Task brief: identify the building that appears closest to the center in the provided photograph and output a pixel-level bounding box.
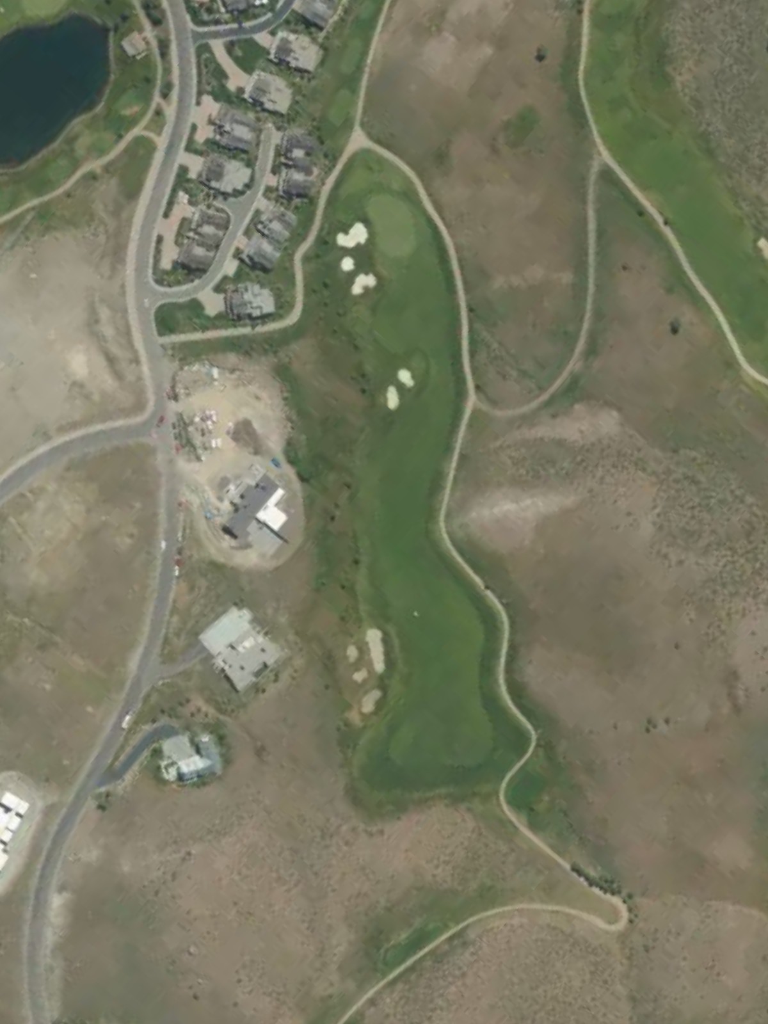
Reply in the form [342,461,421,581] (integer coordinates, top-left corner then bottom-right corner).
[224,465,288,555]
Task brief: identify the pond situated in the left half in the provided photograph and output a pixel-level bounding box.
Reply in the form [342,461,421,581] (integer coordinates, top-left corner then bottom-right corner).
[0,12,111,169]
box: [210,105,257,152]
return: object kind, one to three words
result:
house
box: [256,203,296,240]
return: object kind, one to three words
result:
house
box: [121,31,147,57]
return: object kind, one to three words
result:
building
